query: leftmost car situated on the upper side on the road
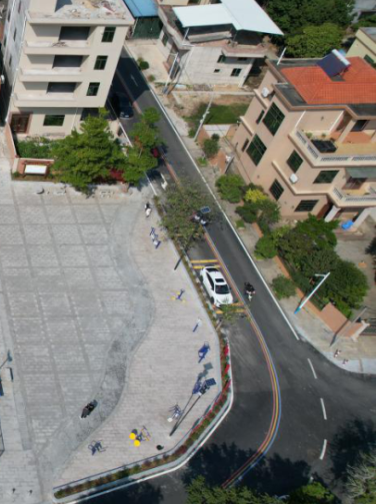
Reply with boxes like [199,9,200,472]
[115,96,140,121]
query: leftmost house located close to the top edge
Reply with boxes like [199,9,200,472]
[0,0,137,135]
